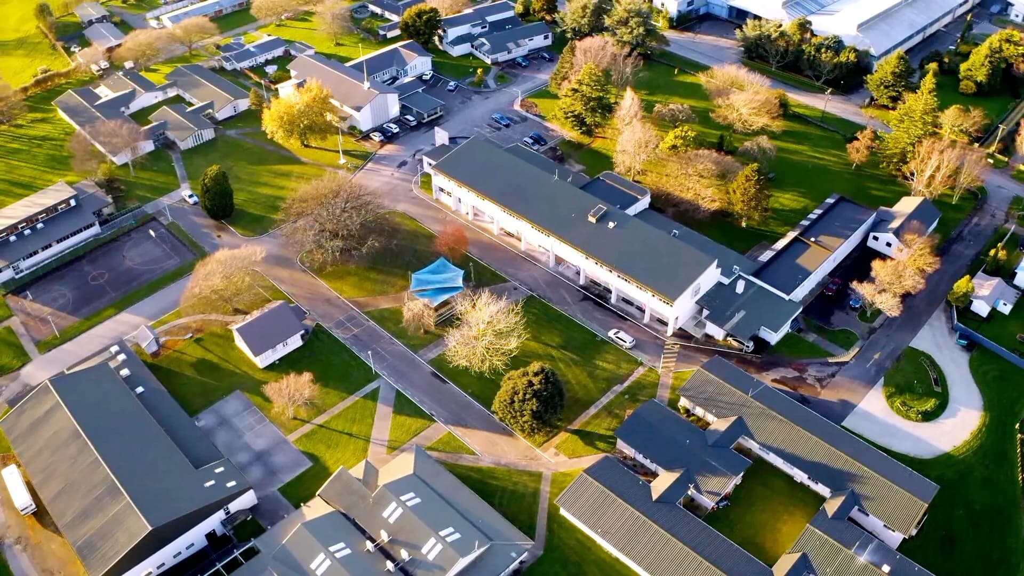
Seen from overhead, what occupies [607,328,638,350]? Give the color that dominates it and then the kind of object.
white car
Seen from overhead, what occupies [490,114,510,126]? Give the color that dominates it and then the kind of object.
blue vehicle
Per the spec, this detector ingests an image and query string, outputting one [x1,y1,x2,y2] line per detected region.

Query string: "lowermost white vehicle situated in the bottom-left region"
[0,455,42,522]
